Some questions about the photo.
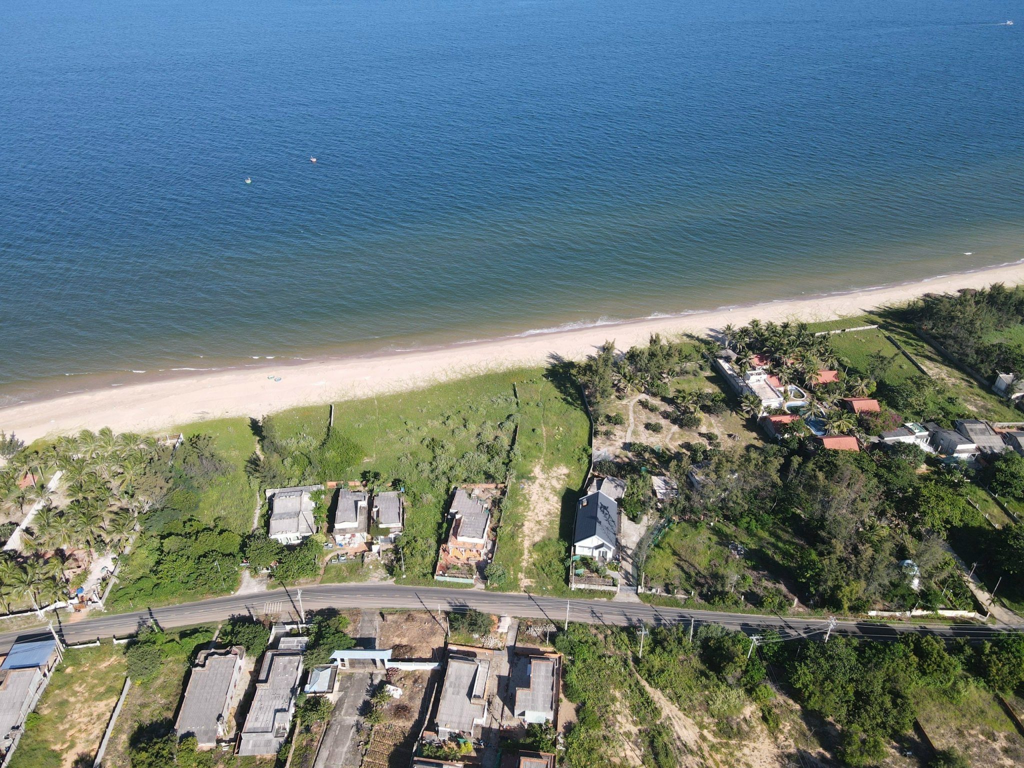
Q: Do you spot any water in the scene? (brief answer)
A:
Yes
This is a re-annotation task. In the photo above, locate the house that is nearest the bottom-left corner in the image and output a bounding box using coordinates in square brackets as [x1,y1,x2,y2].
[0,667,43,759]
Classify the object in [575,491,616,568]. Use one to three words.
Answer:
house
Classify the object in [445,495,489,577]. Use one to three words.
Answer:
house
